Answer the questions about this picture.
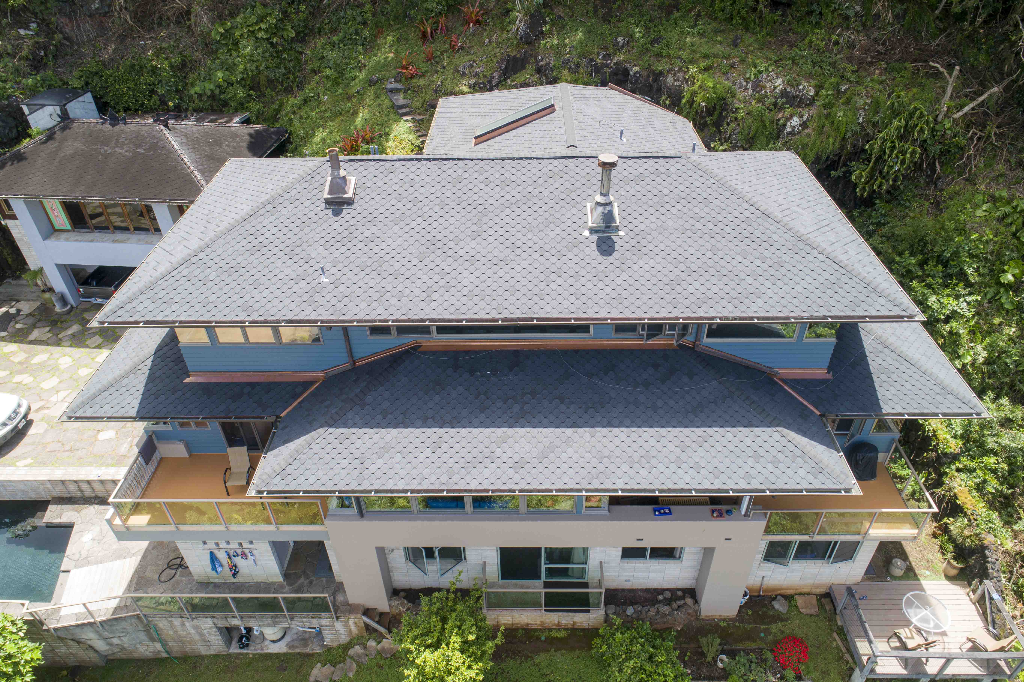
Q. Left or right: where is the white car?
left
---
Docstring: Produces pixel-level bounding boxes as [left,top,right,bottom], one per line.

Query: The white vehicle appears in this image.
[0,388,42,447]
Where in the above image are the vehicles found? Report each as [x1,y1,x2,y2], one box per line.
[0,388,42,447]
[74,268,137,300]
